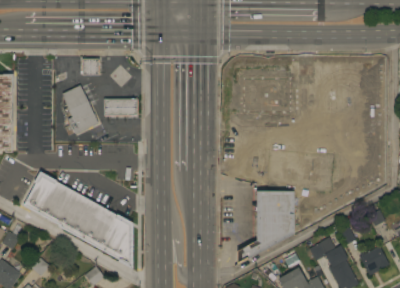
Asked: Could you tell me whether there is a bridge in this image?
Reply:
No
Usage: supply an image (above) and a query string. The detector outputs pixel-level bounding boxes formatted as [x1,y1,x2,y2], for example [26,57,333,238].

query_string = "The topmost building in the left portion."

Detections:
[80,58,100,75]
